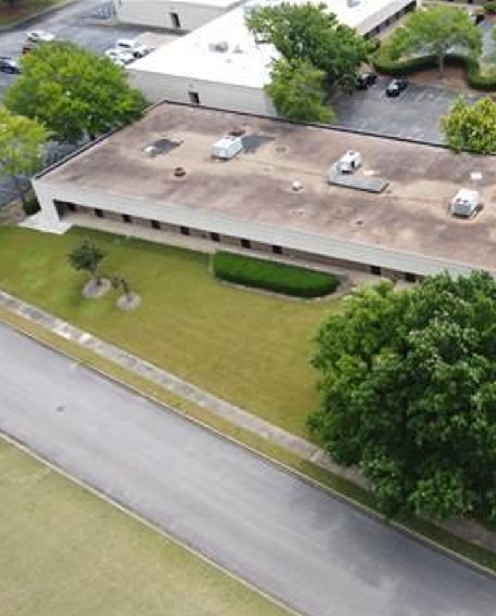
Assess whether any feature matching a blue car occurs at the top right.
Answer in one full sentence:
No, at the top right there is no blue car.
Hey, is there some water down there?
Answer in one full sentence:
No, there's no water in this view.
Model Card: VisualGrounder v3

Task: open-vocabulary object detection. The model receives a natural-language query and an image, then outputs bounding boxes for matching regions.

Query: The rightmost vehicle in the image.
[384,82,408,100]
